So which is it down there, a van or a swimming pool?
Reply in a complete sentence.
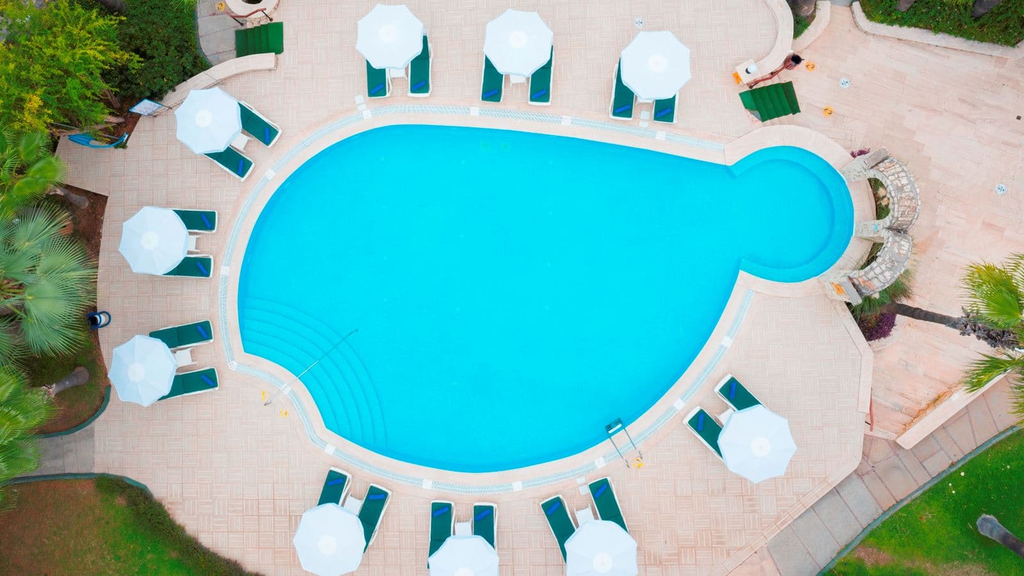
There is a swimming pool in the scene.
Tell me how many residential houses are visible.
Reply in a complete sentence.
I count no residential houses.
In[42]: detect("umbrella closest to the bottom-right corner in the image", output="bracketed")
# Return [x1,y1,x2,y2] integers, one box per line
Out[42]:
[717,404,797,483]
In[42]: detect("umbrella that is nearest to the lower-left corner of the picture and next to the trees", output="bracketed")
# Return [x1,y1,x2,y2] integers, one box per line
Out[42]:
[106,336,176,405]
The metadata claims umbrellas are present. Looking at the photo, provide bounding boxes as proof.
[356,4,422,70]
[176,88,242,153]
[430,538,497,576]
[120,207,191,276]
[717,404,797,483]
[485,7,553,76]
[622,32,688,99]
[567,520,635,576]
[106,336,176,405]
[293,502,367,576]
